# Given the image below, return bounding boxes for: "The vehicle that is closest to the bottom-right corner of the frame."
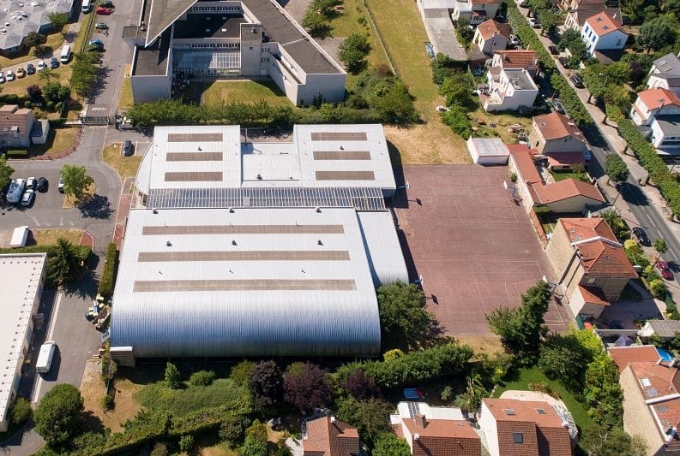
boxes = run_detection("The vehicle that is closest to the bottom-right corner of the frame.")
[654,261,676,281]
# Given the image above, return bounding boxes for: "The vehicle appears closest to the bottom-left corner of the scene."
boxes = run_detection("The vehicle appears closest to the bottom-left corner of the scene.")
[33,341,58,379]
